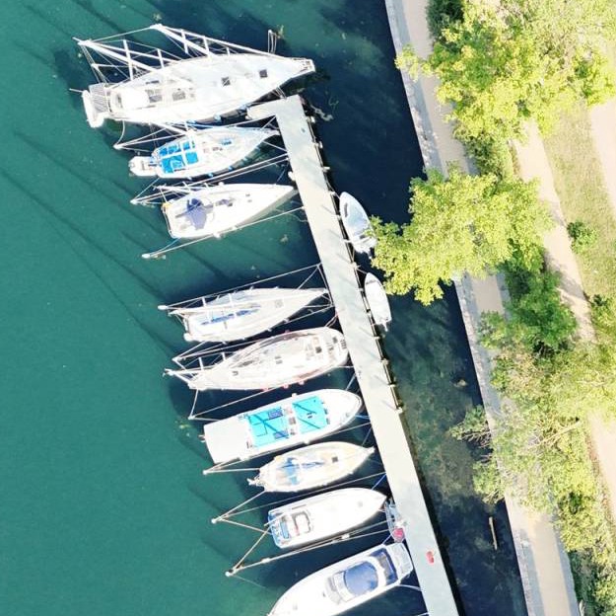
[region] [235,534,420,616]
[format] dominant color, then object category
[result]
white boat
